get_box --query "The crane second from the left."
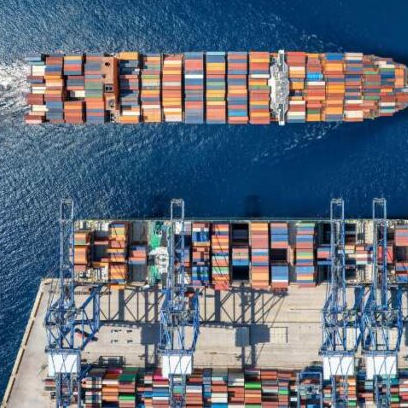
[148,201,225,404]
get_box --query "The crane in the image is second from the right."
[315,201,372,404]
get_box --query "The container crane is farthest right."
[358,201,408,404]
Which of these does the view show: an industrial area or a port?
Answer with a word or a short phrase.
port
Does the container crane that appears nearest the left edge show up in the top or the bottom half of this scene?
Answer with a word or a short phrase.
bottom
